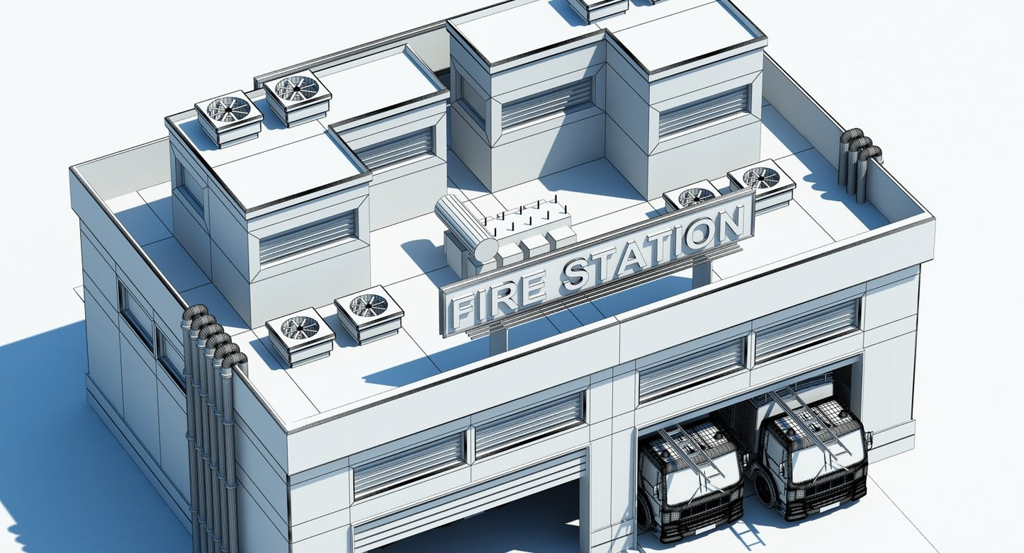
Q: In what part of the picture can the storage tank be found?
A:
center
